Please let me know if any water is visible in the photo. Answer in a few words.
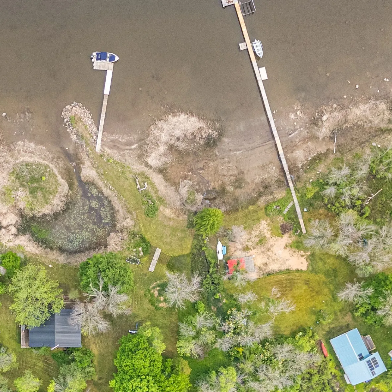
Yes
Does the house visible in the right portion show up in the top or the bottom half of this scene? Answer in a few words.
bottom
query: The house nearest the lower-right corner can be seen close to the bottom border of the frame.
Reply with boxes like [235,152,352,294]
[328,329,386,387]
